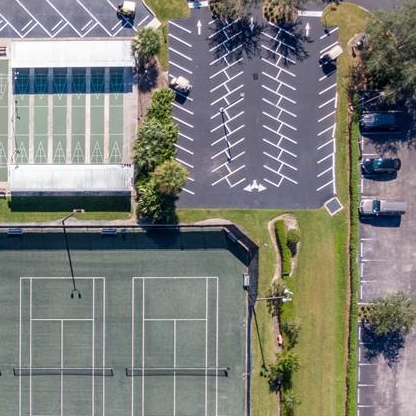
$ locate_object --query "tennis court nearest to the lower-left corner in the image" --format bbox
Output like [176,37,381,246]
[20,276,105,416]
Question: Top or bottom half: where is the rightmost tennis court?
bottom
